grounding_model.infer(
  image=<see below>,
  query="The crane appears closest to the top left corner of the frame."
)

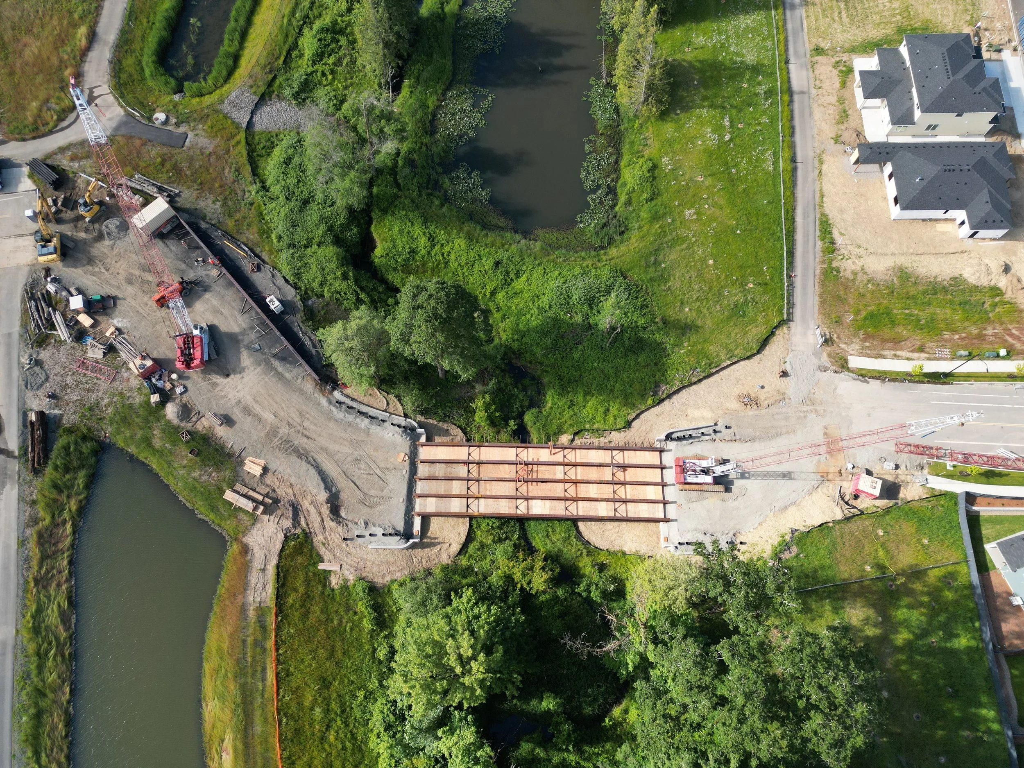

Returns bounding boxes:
[66,73,218,381]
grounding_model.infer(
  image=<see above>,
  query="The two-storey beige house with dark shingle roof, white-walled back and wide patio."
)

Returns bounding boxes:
[854,33,1006,136]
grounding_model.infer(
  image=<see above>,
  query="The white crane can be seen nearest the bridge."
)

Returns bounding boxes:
[672,410,984,493]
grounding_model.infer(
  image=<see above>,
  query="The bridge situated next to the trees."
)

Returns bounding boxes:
[337,391,715,555]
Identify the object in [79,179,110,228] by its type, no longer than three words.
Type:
work vehicle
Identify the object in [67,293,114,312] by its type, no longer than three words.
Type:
trailer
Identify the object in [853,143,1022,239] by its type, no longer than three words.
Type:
house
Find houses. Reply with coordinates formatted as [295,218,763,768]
[853,143,1022,239]
[854,33,1006,136]
[988,533,1024,624]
